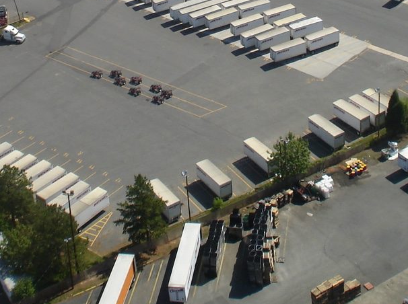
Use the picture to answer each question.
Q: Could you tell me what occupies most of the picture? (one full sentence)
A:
The scene is dominated by paved ground.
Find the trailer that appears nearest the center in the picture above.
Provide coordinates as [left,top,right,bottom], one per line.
[197,159,233,201]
